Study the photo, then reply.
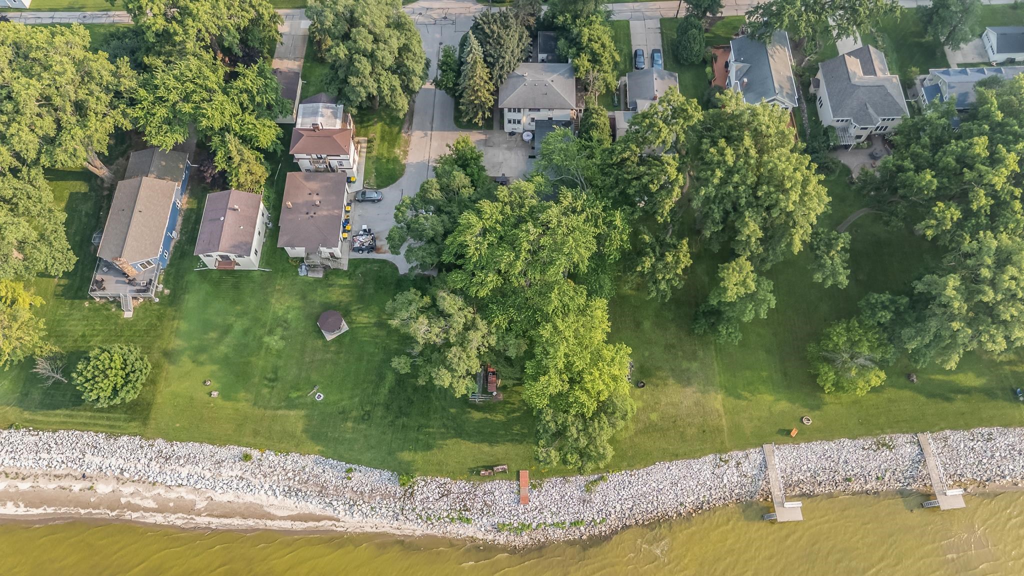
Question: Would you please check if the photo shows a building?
Yes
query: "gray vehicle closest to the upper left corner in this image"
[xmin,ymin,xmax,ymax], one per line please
[353,188,383,202]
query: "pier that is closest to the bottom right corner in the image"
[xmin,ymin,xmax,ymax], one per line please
[916,430,966,512]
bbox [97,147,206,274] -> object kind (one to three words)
house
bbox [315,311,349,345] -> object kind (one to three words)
gazebo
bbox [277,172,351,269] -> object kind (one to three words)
house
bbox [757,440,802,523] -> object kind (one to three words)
pier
